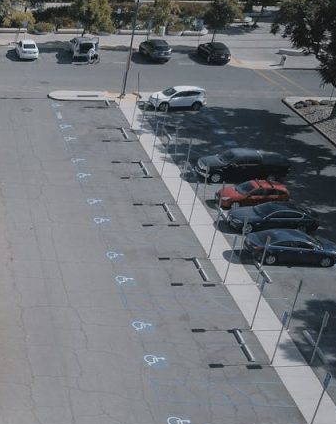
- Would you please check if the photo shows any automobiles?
Yes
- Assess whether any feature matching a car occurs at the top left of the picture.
Yes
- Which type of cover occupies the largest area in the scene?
paved ground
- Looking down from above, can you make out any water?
No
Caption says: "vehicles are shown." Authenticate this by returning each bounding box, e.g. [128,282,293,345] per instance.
[18,38,40,57]
[143,37,173,59]
[199,41,235,61]
[244,228,336,265]
[67,34,97,58]
[214,175,297,208]
[226,199,325,232]
[196,144,297,179]
[147,84,209,111]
